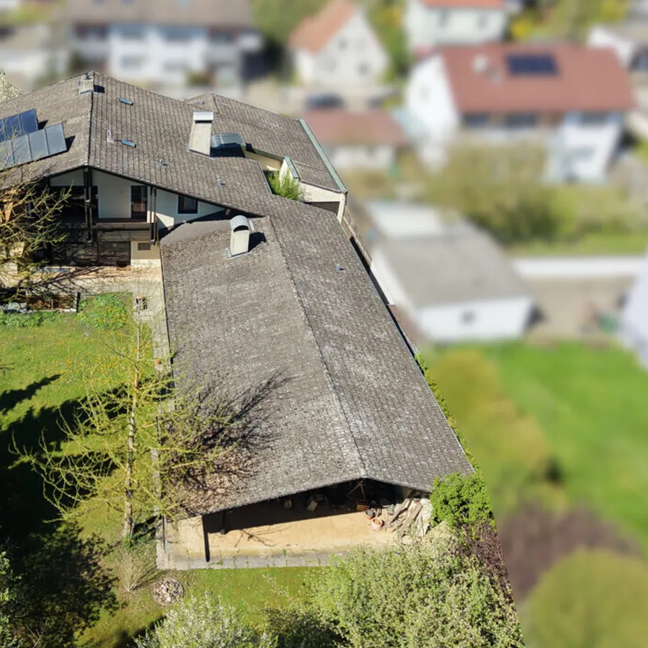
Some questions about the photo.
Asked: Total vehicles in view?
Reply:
two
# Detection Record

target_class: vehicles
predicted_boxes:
[351,84,408,109]
[297,86,354,109]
